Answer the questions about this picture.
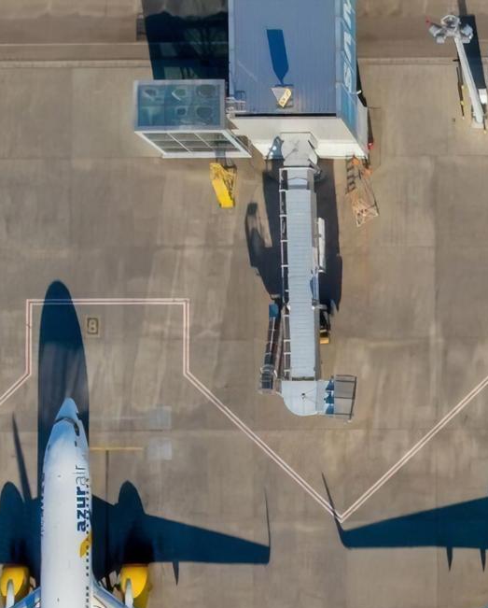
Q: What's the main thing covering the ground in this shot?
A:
paved ground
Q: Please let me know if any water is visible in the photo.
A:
No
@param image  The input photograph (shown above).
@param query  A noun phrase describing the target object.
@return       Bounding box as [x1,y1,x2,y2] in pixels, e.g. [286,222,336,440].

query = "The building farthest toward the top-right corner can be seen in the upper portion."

[227,0,370,159]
